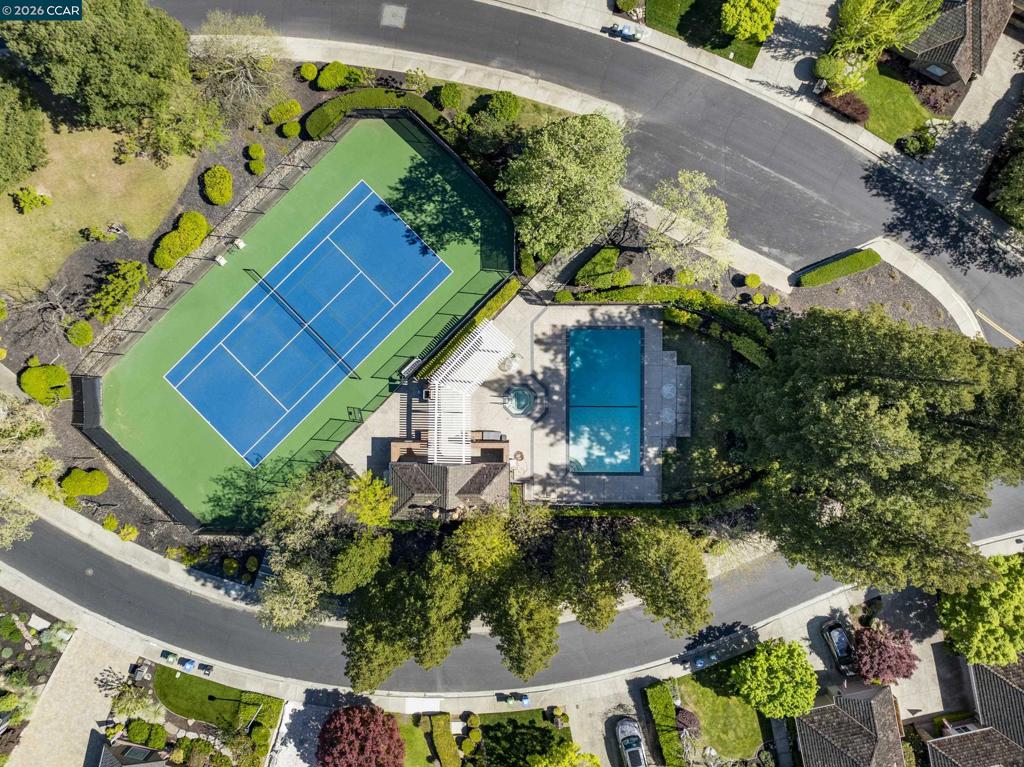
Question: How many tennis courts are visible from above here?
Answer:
one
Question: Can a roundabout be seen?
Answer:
No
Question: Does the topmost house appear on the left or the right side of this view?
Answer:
right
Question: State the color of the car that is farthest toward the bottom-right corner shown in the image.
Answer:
black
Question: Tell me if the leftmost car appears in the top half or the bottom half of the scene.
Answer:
bottom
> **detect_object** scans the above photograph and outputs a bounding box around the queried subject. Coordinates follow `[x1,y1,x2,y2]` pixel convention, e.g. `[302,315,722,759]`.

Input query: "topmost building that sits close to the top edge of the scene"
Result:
[904,0,1018,85]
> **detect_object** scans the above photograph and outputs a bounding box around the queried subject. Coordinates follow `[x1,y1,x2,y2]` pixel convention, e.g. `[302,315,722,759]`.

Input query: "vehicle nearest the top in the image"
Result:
[818,617,857,677]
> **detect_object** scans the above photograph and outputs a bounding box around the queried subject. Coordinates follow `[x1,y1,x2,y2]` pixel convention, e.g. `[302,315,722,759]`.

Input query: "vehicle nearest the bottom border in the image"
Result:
[618,714,649,767]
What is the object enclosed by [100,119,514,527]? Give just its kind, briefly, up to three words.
tennis court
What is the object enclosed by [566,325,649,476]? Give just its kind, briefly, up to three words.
swimming pool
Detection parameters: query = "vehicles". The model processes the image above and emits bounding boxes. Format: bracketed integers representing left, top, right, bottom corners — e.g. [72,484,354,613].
[618,714,649,767]
[818,617,857,677]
